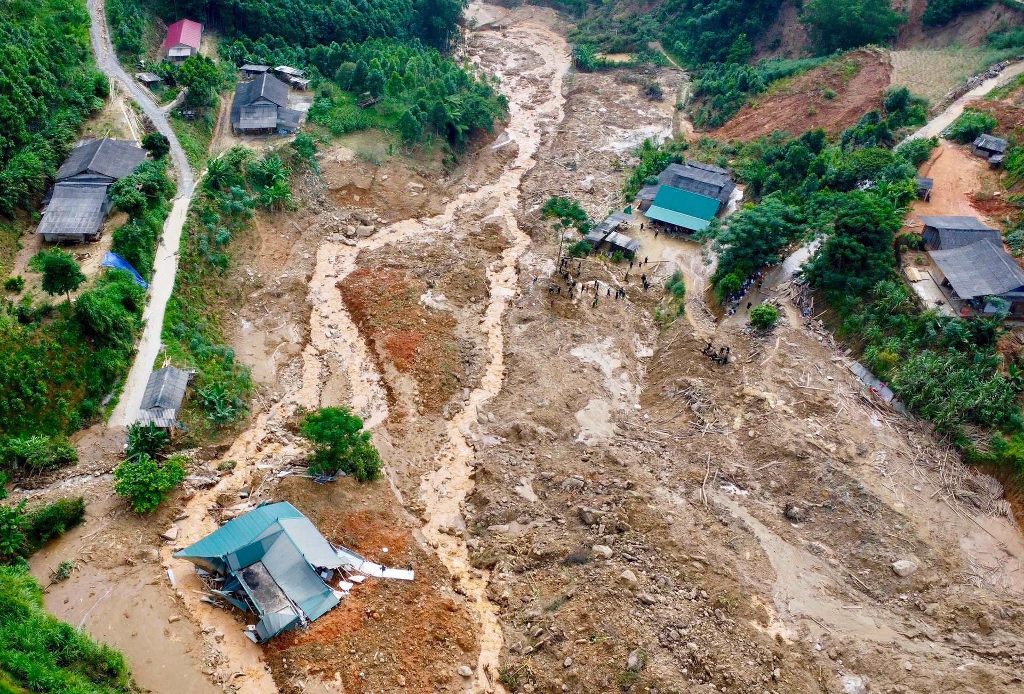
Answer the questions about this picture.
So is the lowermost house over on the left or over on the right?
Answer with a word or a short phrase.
left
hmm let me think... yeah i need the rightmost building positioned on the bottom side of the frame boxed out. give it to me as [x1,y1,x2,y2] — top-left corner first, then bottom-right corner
[173,501,359,643]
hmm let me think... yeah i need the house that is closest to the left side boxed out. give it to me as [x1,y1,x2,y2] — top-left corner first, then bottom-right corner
[36,137,146,244]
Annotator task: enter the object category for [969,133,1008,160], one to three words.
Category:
shed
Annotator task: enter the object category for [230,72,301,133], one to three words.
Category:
house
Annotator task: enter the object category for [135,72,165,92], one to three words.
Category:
shed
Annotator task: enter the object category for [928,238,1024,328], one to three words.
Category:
house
